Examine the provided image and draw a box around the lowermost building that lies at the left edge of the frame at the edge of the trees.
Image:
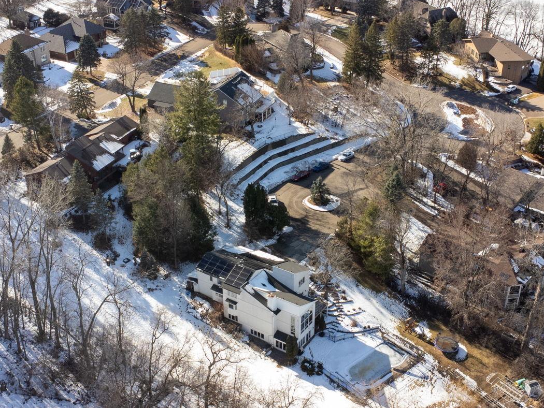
[23,115,148,195]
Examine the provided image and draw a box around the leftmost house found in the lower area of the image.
[189,242,336,350]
